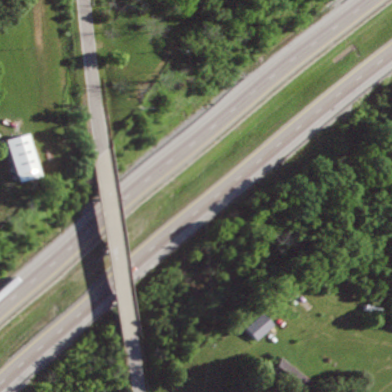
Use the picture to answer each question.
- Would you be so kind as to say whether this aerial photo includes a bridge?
Yes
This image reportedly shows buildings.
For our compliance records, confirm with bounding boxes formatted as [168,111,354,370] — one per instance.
[8,132,43,183]
[278,358,308,383]
[248,314,274,340]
